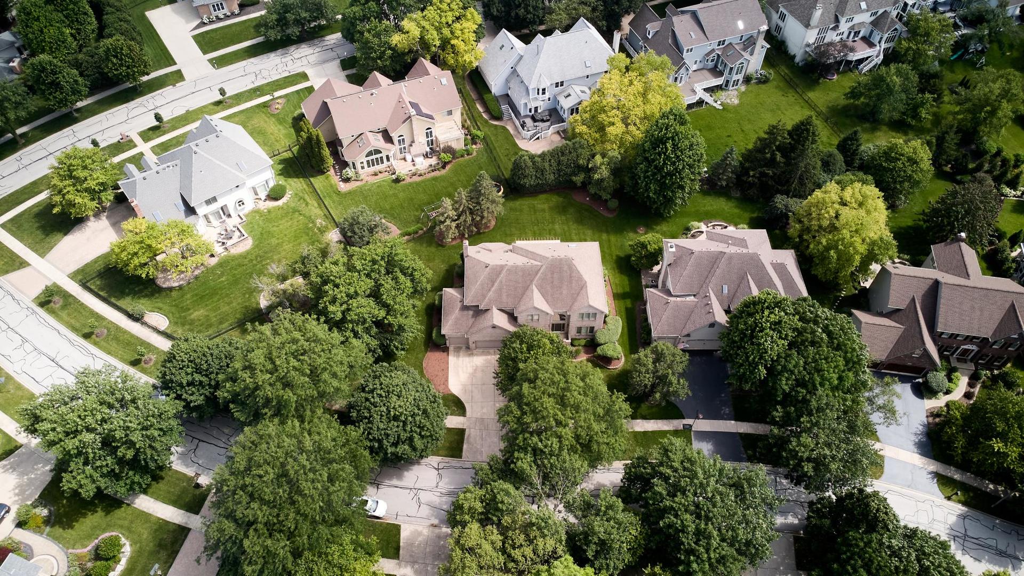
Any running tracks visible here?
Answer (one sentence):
No, there's no running track here.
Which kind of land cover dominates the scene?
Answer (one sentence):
The largest share of the image is taken up by trees.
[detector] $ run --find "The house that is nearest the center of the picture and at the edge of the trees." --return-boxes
[440,232,608,351]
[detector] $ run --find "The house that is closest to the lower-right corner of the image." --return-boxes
[853,224,1024,378]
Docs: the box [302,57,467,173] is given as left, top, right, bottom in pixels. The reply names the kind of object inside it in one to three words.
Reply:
house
